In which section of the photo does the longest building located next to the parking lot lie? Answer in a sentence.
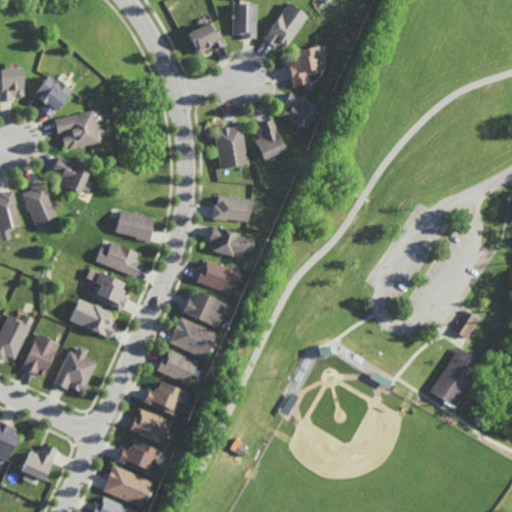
The longest building located next to the parking lot is in the bottom right part of the image.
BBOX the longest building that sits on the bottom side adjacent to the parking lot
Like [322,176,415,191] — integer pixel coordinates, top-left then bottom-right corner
[434,347,474,408]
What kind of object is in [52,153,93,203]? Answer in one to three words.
house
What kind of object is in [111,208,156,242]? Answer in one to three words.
house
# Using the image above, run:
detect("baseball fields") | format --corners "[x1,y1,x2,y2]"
[232,358,512,512]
